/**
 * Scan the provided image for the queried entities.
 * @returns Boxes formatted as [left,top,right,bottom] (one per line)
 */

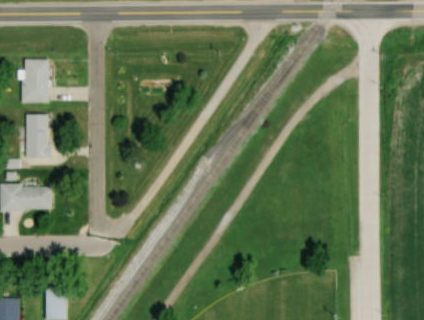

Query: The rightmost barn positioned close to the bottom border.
[44,288,68,320]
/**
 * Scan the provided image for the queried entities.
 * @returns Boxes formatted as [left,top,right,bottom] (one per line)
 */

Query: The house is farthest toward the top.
[17,58,49,102]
